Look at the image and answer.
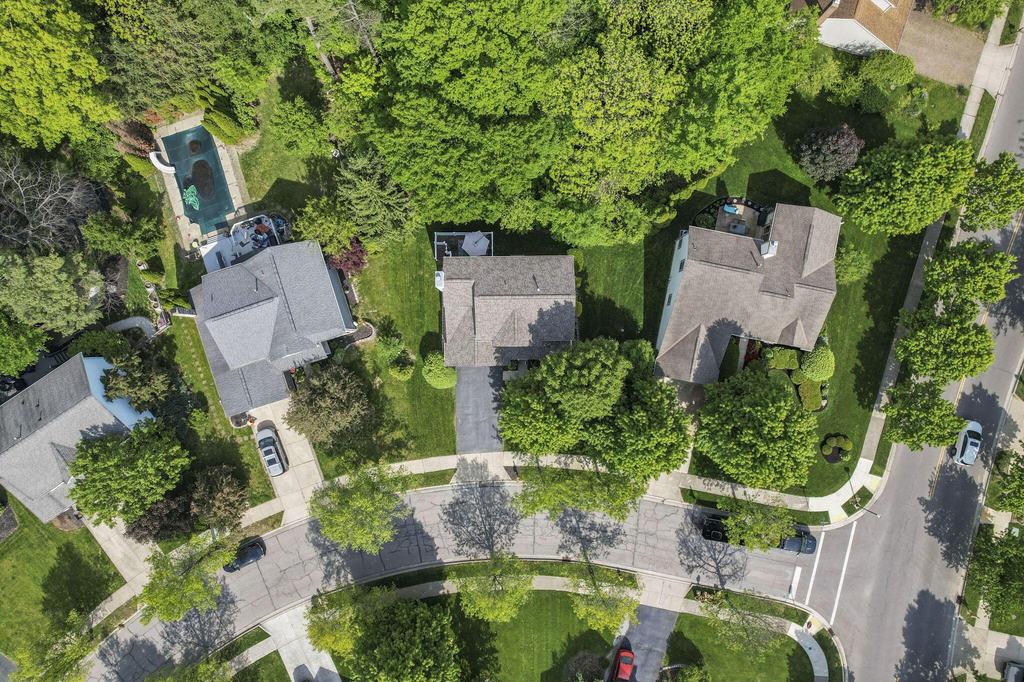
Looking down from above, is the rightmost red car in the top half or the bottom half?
bottom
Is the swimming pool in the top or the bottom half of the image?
top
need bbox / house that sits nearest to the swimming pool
[169,240,355,418]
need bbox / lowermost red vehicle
[610,651,634,682]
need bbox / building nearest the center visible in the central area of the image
[435,255,575,366]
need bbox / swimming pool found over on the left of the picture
[152,116,260,262]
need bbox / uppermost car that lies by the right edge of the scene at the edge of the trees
[952,417,985,466]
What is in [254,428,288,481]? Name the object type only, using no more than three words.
car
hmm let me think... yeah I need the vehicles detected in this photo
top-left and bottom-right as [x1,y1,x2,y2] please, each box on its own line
[750,530,814,557]
[952,417,985,466]
[254,428,288,481]
[1002,659,1024,682]
[697,518,747,546]
[610,651,634,682]
[222,539,269,571]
